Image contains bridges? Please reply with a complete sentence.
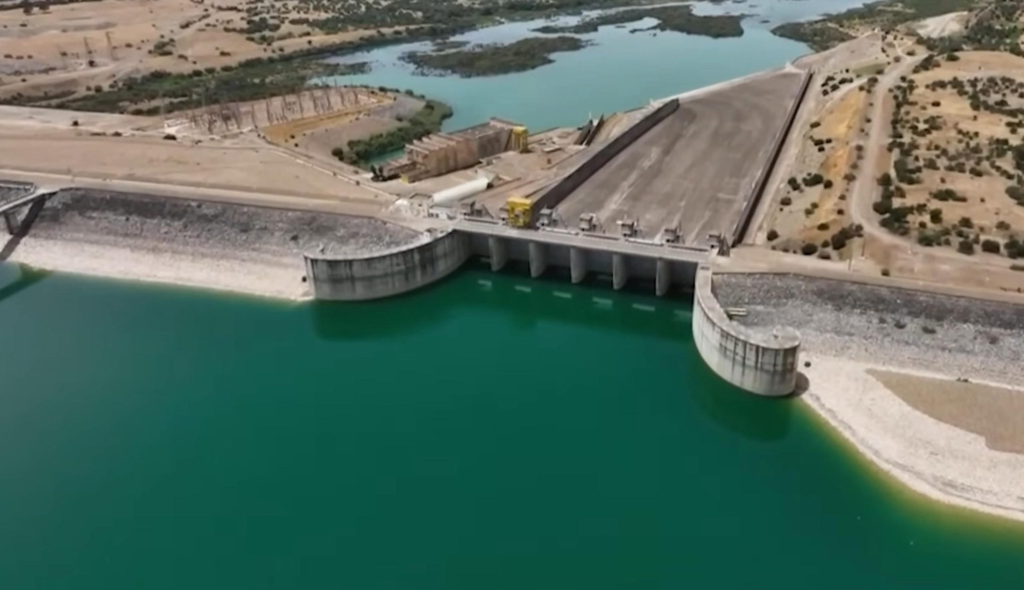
Yes, a bridge is visible in the scene.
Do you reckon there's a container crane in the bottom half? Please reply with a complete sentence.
No, there's no container crane to be seen in the bottom half.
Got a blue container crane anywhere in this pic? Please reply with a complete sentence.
No, this view has no blue container crane in it.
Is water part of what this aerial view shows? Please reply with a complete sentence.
Yes, there's water in this view.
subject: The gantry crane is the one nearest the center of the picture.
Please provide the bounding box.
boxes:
[504,196,535,234]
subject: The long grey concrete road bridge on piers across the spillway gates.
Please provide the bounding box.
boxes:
[457,215,703,297]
